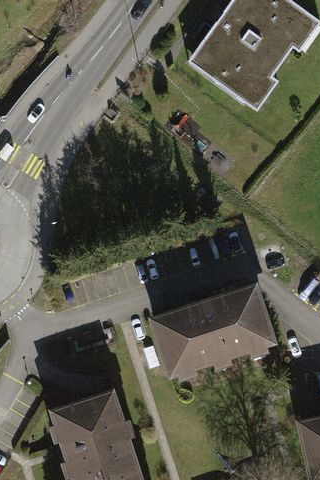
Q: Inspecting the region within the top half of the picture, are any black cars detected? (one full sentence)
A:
Yes, there is a black car within the top half of the picture.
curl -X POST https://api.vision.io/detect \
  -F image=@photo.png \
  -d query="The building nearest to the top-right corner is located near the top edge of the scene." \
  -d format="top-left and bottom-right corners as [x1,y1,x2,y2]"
[189,0,320,114]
